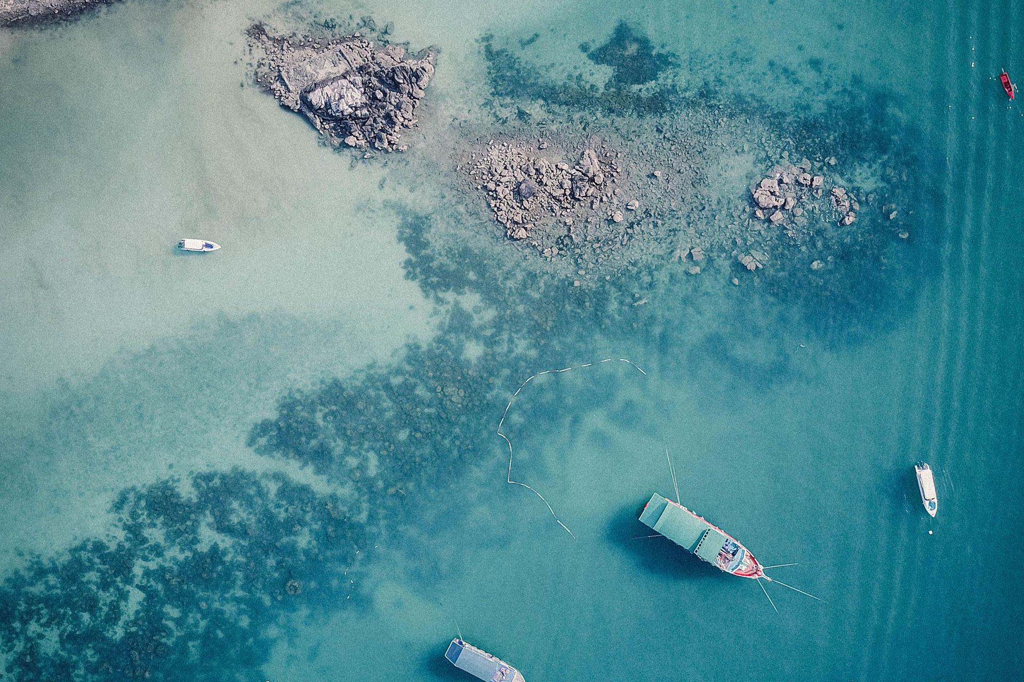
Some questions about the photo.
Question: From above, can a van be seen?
No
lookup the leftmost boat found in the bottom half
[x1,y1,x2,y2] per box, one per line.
[445,635,529,682]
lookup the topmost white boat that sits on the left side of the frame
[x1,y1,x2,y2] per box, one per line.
[178,238,222,252]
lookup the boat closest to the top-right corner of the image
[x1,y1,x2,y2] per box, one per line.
[1000,70,1015,100]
